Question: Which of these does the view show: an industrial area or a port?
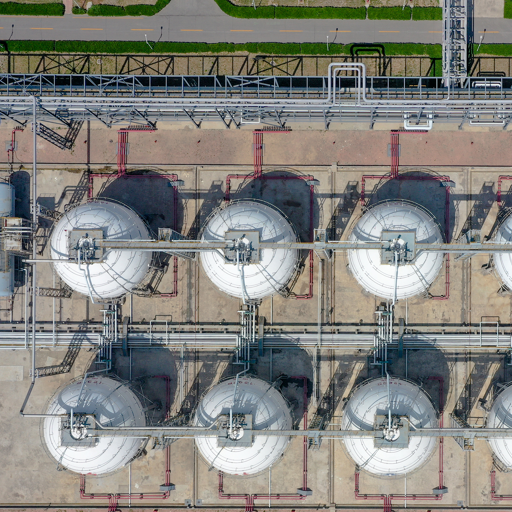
industrial area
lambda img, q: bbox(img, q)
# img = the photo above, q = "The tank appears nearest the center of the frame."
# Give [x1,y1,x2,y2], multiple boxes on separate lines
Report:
[196,198,305,304]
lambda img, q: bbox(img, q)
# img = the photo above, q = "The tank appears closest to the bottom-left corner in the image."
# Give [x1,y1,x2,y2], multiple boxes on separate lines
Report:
[39,370,162,478]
